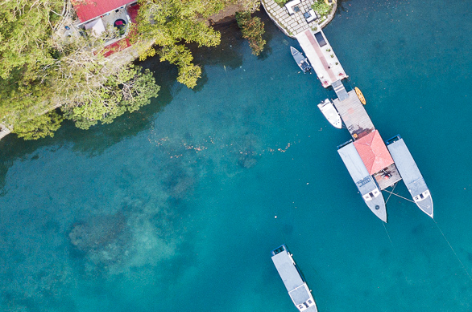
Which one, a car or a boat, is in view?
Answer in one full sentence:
It is a boat that can be seen here.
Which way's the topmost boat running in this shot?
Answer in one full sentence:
What the image shows is the topmost boat lying at an angle.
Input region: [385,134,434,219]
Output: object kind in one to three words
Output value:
boat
